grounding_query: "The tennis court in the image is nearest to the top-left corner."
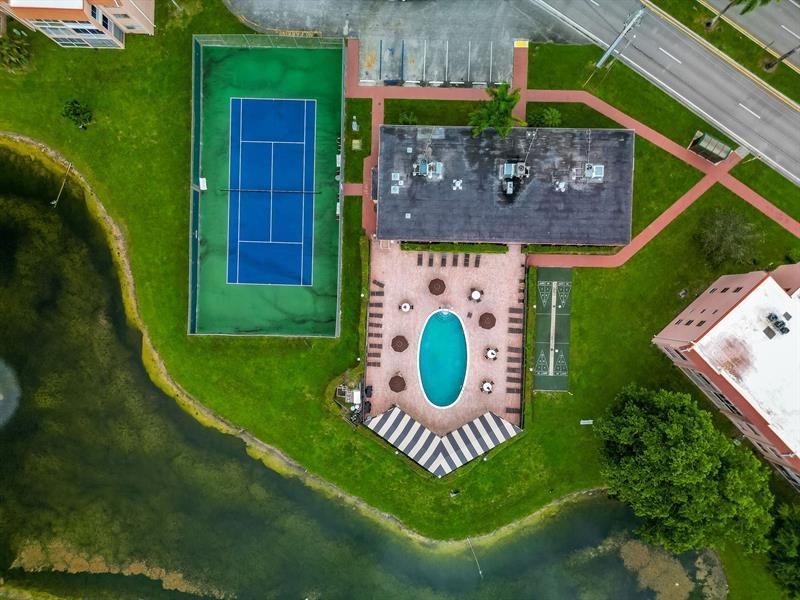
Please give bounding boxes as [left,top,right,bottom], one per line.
[197,47,345,336]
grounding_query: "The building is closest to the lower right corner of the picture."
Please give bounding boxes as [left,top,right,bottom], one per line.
[652,262,800,492]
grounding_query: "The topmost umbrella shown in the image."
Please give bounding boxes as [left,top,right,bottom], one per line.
[428,278,445,295]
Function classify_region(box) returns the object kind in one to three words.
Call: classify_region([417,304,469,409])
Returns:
swimming pool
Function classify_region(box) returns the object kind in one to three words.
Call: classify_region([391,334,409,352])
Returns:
umbrella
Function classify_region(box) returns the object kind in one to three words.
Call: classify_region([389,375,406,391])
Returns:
umbrella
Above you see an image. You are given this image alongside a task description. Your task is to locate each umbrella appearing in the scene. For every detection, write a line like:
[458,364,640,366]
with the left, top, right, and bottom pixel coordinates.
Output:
[478,312,495,329]
[389,375,406,391]
[428,278,445,295]
[391,334,409,352]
